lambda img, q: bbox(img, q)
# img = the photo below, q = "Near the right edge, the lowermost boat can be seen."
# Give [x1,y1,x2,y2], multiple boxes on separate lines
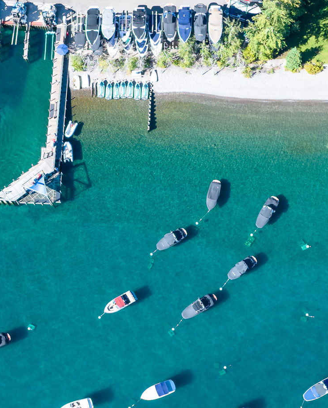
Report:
[303,379,328,401]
